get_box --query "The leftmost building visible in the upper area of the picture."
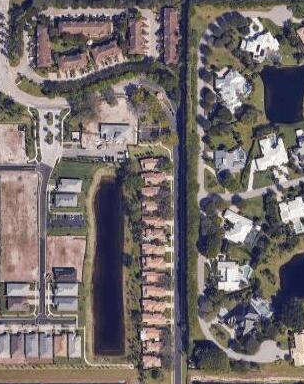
[36,22,52,68]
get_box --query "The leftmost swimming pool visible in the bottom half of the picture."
[239,262,253,280]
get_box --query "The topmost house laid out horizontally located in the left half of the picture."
[57,20,112,35]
